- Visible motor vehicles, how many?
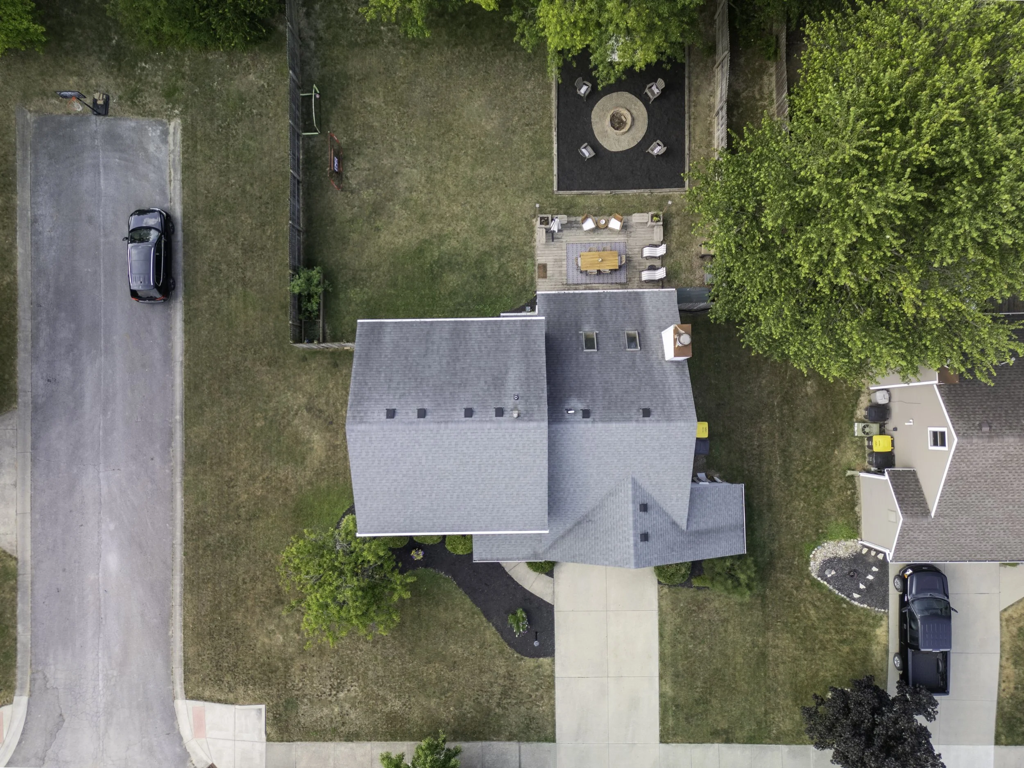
2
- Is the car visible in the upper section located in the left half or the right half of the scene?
left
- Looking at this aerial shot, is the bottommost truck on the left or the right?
right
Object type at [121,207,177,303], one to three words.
car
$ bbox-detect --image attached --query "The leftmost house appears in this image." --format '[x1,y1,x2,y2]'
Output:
[346,287,748,568]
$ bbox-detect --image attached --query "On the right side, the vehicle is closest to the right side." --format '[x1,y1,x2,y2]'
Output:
[892,565,957,695]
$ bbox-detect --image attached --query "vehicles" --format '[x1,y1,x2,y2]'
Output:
[892,565,957,695]
[121,207,177,303]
